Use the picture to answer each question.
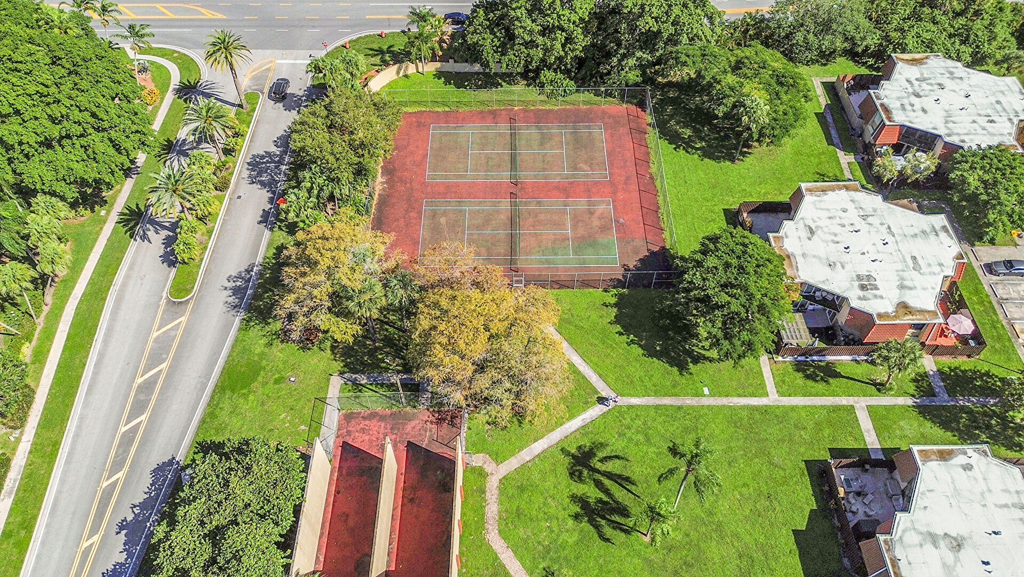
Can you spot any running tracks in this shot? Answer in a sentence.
No, no running track can be seen from above.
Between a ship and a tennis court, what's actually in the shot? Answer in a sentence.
The one in the frame is a tennis court.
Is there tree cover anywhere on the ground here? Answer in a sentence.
Yes, there is tree cover in the image.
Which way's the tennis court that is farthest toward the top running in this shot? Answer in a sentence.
Seen from above, the tennis court that is farthest toward the top lies from left to right.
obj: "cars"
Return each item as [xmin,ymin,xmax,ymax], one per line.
[444,14,472,27]
[272,75,292,98]
[987,258,1024,276]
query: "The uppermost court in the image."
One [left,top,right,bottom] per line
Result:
[426,124,609,181]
